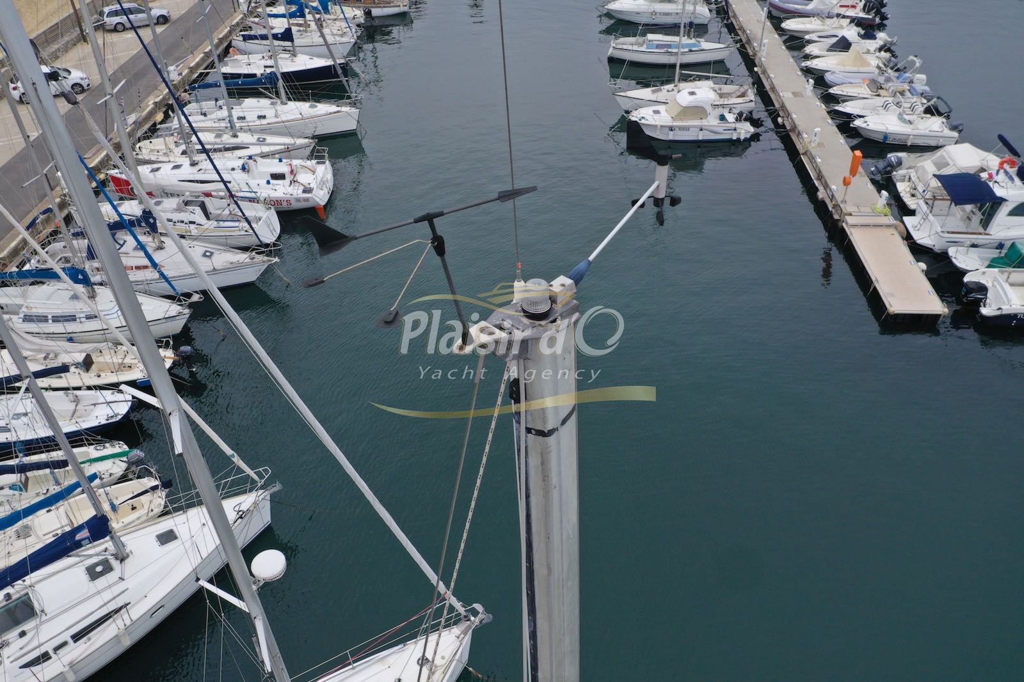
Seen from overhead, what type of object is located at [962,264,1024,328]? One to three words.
boat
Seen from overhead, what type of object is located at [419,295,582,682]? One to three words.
boat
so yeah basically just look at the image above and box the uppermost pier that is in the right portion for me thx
[722,0,898,230]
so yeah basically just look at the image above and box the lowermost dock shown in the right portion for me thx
[842,219,954,328]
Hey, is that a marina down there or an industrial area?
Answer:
marina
